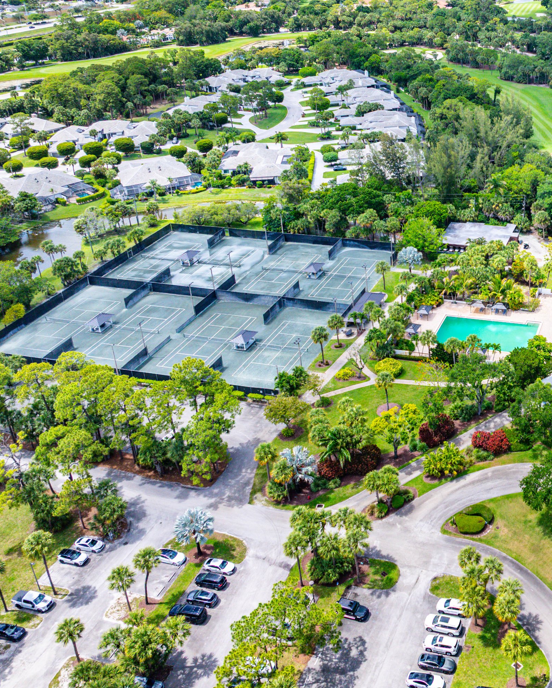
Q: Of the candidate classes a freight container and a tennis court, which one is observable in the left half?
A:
tennis court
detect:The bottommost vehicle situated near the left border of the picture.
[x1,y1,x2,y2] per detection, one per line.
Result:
[0,623,27,642]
